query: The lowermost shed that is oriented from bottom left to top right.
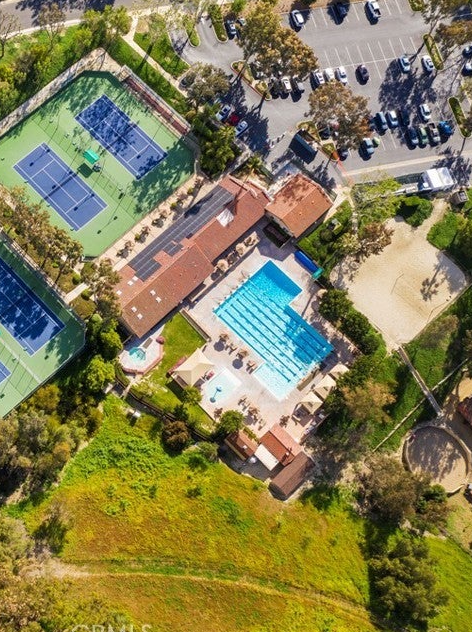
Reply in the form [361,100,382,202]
[264,450,315,500]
